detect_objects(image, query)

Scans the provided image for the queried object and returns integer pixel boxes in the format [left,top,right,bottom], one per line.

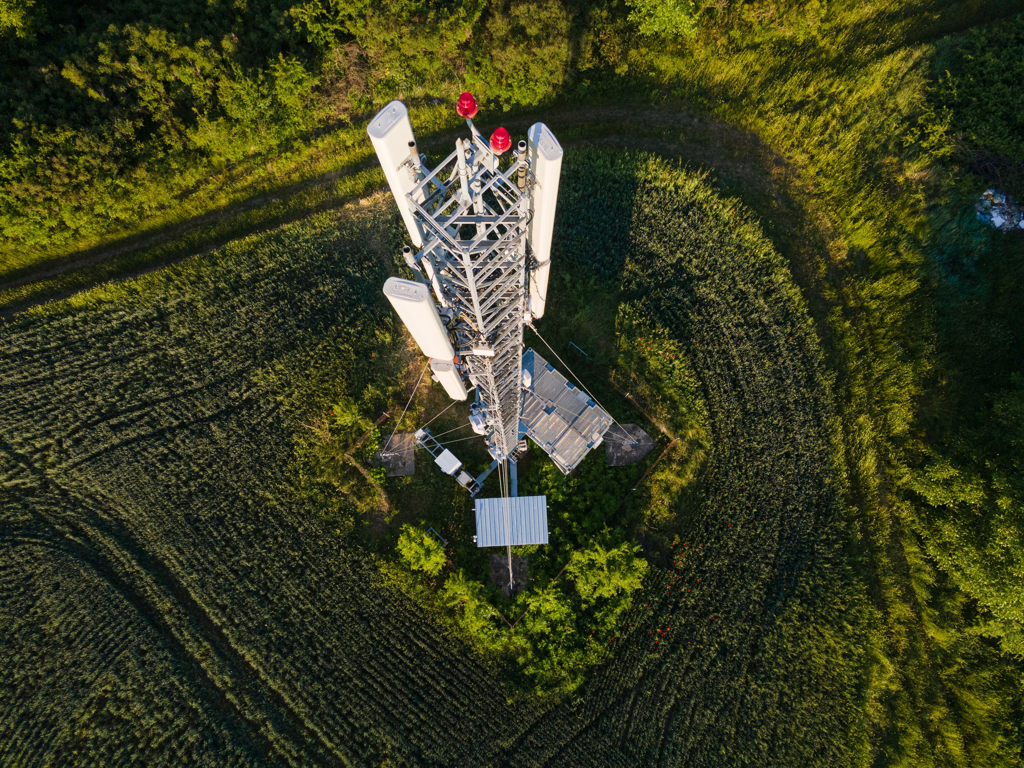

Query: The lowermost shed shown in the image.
[471,496,551,547]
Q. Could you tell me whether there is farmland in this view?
Yes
